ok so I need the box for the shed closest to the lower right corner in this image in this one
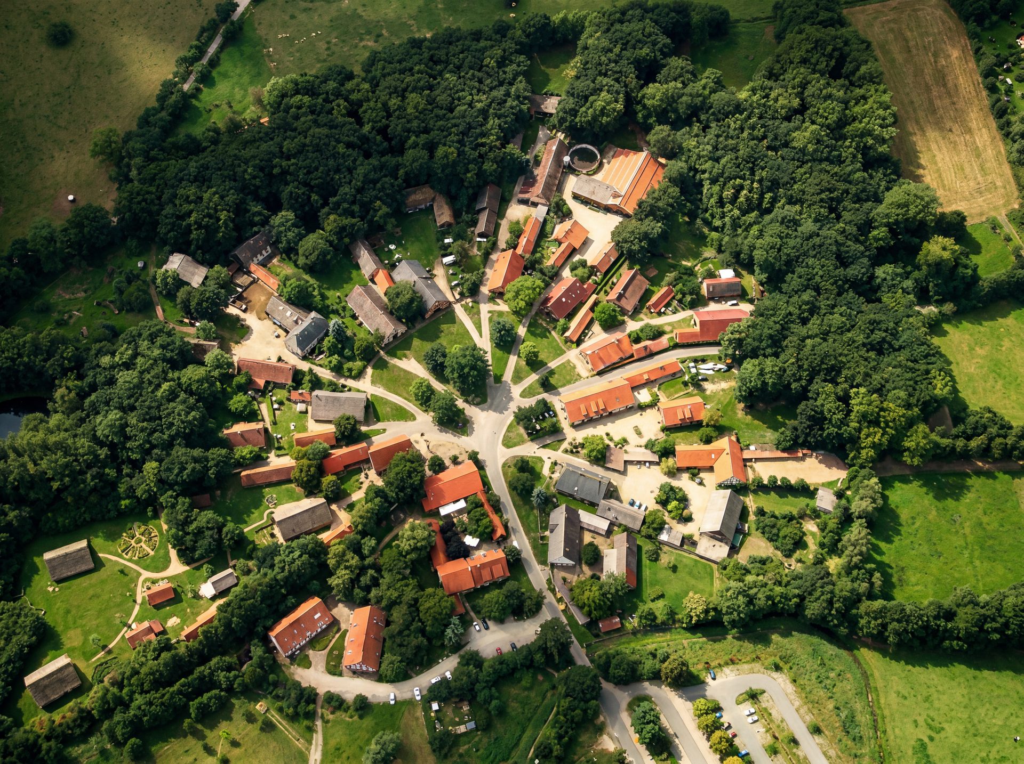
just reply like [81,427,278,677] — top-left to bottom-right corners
[817,488,838,512]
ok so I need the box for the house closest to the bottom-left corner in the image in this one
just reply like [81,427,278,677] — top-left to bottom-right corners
[27,654,82,708]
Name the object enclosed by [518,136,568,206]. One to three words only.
barn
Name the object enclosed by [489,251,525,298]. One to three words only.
house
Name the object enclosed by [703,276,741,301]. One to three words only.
building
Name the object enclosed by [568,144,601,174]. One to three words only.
storage tank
